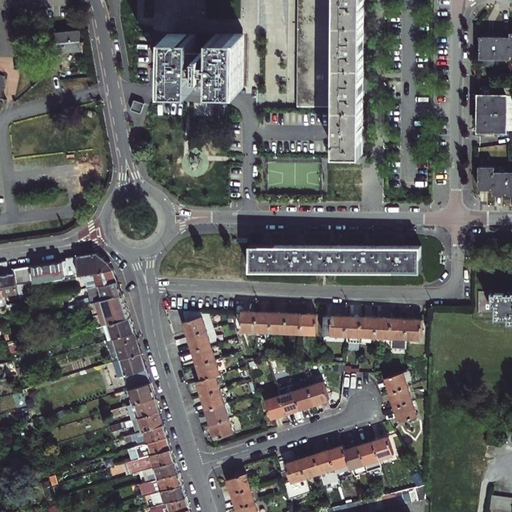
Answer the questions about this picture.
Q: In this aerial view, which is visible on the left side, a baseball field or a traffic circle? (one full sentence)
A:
Visible on the left side is a traffic circle.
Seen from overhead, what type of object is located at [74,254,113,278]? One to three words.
building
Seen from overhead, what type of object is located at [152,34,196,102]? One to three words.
building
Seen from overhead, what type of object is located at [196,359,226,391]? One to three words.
house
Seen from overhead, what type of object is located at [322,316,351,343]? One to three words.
house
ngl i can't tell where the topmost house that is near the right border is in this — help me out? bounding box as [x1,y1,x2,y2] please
[480,31,512,60]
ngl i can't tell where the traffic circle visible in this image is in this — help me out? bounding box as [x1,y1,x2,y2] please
[102,184,174,257]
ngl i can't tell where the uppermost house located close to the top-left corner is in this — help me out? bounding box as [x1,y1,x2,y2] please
[55,31,82,54]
